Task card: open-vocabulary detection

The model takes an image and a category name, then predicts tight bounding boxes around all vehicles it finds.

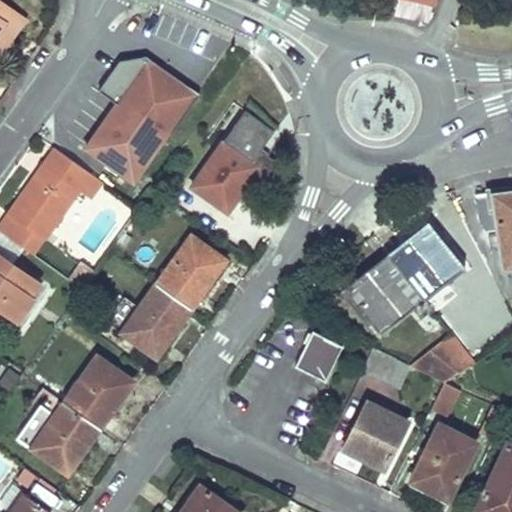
[108,470,126,491]
[124,14,142,34]
[253,352,276,370]
[259,288,276,309]
[238,16,264,34]
[350,54,372,68]
[344,398,358,420]
[194,30,209,53]
[442,119,463,136]
[334,421,350,442]
[230,392,250,410]
[264,342,284,359]
[416,54,438,66]
[197,212,218,230]
[282,420,304,436]
[448,191,464,218]
[286,46,306,64]
[462,130,488,150]
[272,478,296,496]
[178,188,196,206]
[284,322,296,344]
[94,490,113,510]
[278,432,300,448]
[292,396,314,411]
[31,48,50,68]
[142,12,159,34]
[266,32,287,49]
[94,48,114,69]
[288,408,308,424]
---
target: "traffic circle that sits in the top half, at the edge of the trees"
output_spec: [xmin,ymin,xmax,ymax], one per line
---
[337,63,422,148]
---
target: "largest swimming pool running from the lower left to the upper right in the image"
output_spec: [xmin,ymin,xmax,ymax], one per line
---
[77,207,118,254]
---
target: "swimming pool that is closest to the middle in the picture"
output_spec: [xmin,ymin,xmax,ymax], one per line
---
[136,244,156,264]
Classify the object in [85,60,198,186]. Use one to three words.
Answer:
building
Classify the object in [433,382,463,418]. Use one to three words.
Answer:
shed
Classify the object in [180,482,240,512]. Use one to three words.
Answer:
house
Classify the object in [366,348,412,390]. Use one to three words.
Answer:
building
